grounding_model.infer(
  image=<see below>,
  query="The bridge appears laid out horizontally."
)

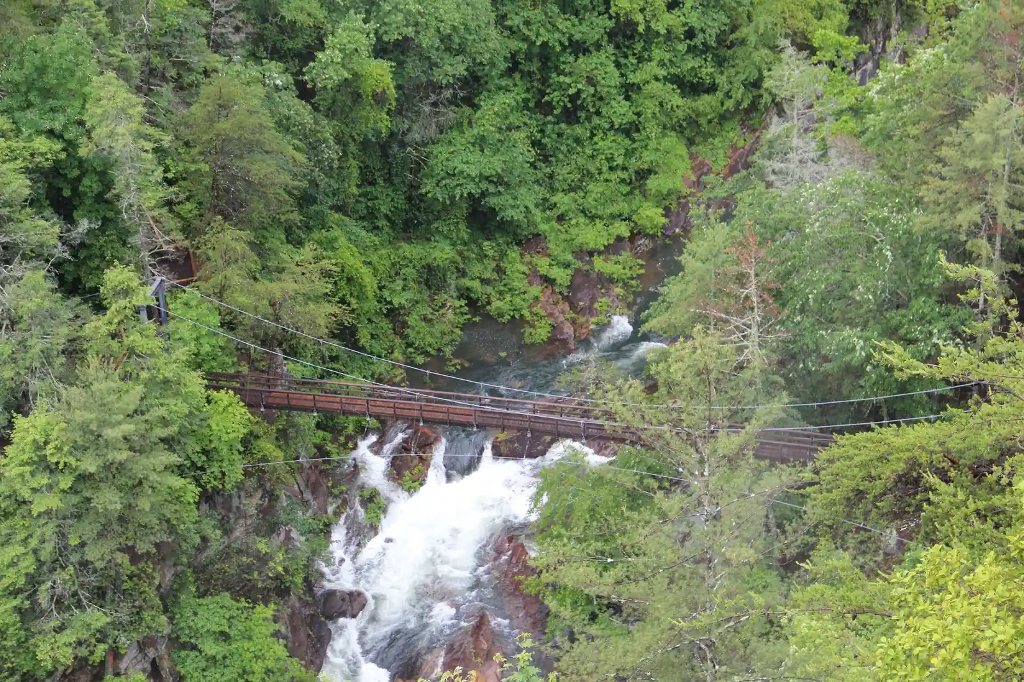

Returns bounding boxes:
[78,276,1022,549]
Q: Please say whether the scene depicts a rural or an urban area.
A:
rural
